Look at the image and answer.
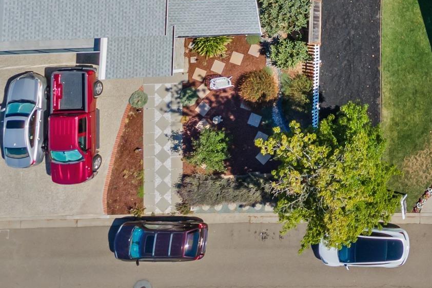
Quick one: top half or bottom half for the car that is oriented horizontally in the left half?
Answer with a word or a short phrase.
bottom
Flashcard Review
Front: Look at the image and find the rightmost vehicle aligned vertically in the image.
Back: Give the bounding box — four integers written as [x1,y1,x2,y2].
[45,65,106,181]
